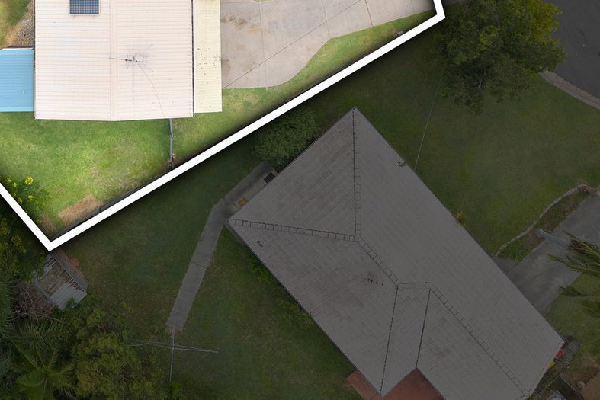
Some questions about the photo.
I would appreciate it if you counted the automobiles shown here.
0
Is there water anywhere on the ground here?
No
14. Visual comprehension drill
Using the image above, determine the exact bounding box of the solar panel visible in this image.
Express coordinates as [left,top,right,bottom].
[69,0,99,14]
